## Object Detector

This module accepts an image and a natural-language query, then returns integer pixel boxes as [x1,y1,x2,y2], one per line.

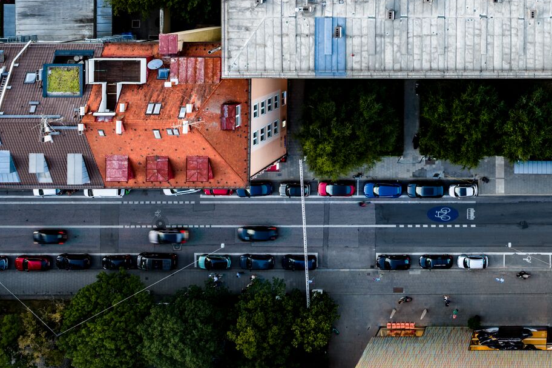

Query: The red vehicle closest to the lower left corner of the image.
[15,254,51,272]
